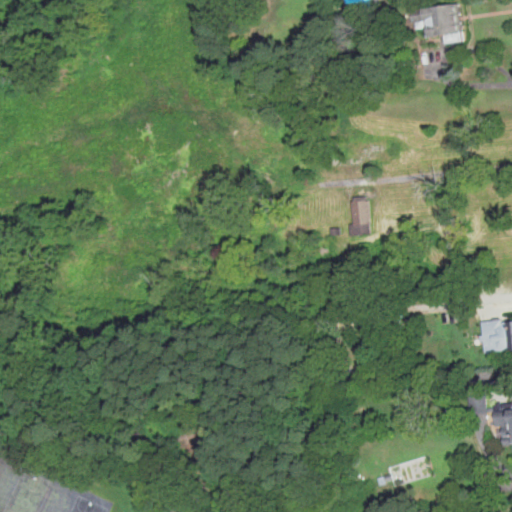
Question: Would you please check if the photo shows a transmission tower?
No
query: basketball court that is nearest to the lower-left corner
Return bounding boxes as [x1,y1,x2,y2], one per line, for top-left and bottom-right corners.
[0,458,112,512]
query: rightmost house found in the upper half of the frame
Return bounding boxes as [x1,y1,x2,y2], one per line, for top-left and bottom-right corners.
[410,2,466,45]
